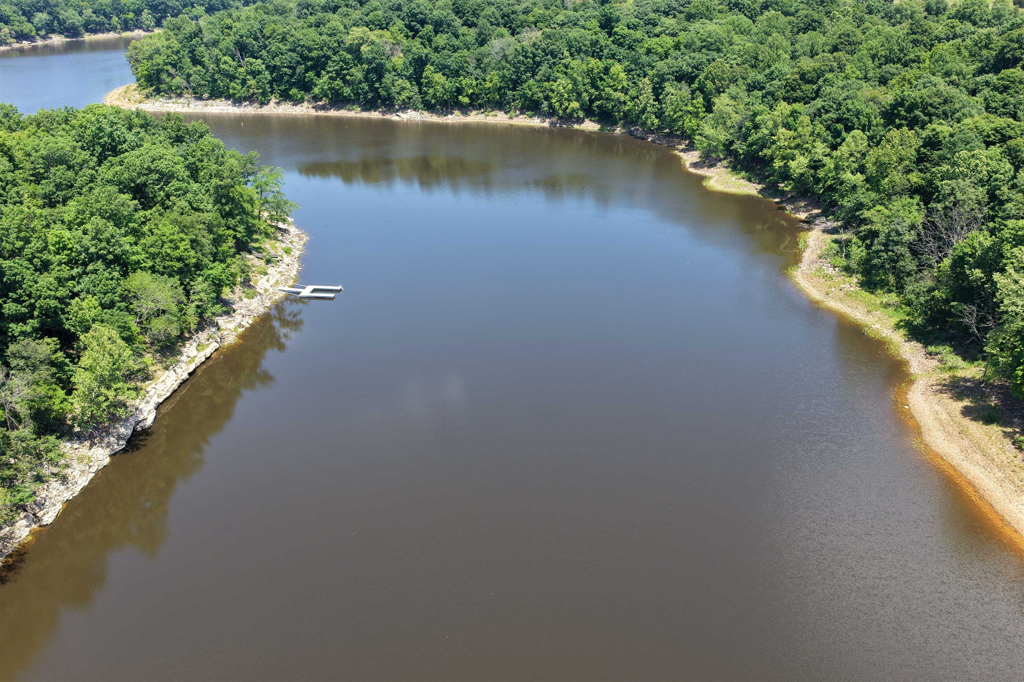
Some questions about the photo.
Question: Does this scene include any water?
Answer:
Yes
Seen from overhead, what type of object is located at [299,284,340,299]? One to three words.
pier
